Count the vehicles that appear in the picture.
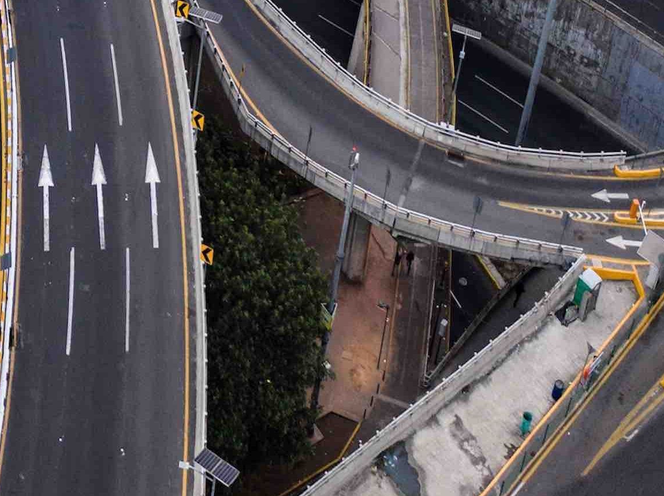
0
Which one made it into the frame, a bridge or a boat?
bridge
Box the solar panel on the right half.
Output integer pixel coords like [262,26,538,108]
[452,24,482,39]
